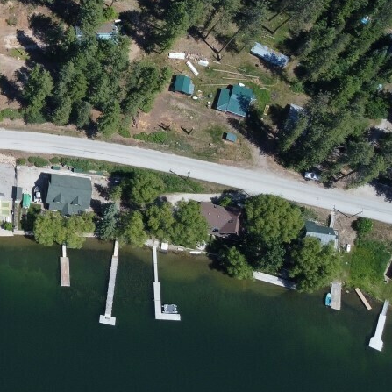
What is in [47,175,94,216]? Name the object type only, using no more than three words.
house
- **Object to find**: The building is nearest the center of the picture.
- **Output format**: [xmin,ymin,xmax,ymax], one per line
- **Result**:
[201,204,239,236]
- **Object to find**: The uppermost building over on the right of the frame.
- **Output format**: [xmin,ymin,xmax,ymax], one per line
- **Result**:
[248,42,289,72]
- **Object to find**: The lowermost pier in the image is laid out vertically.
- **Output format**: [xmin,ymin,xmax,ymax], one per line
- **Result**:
[369,300,388,354]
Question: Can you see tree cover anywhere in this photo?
Yes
